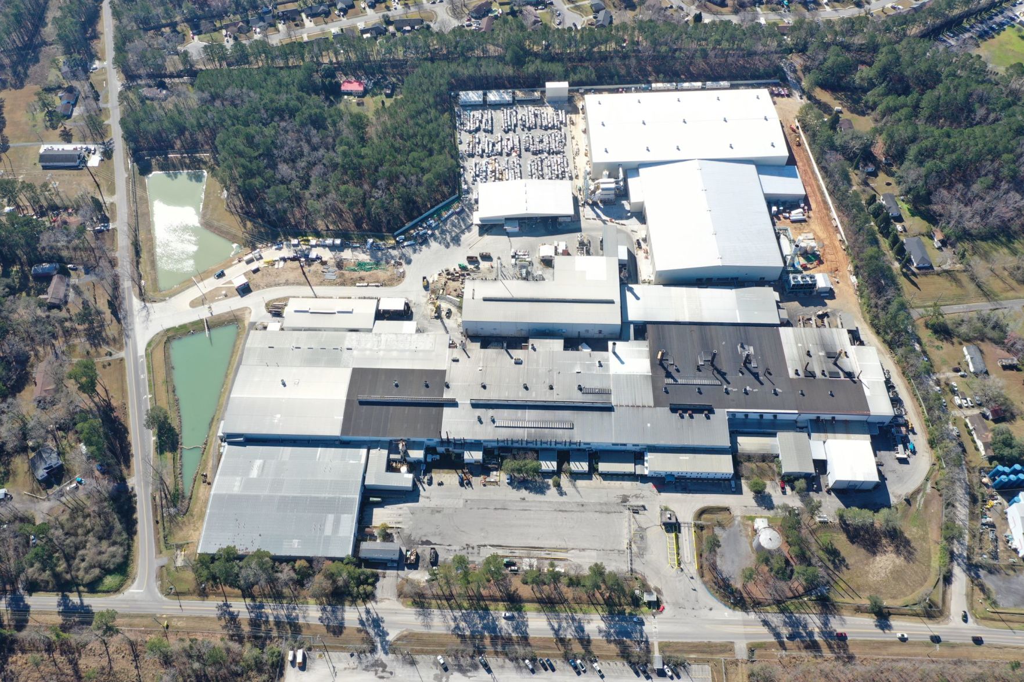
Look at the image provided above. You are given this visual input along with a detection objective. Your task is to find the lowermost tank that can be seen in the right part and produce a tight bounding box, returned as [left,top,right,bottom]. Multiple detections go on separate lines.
[754,528,782,556]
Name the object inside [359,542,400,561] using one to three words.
building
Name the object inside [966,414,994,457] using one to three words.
house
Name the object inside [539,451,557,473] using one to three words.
shed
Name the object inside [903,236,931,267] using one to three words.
house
